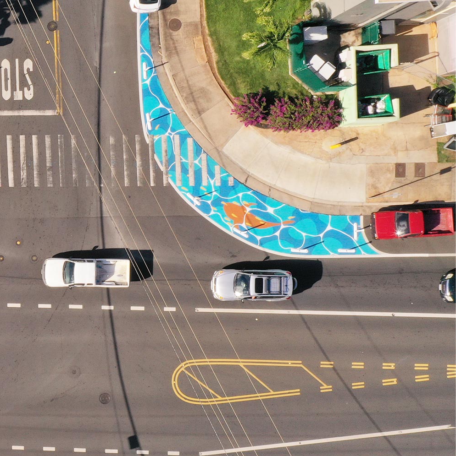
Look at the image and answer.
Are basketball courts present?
No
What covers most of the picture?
paved ground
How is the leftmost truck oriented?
from left to right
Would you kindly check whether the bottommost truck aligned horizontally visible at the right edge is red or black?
red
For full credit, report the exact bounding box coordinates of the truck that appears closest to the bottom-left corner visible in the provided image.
[38,254,130,291]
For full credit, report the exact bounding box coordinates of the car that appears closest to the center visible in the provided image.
[210,267,299,304]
